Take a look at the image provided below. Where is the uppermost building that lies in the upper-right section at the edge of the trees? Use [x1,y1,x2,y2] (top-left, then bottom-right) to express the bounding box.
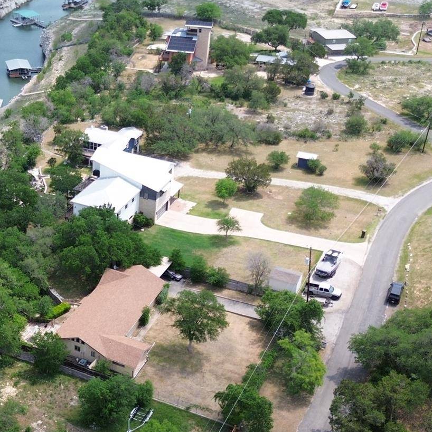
[306,26,356,59]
